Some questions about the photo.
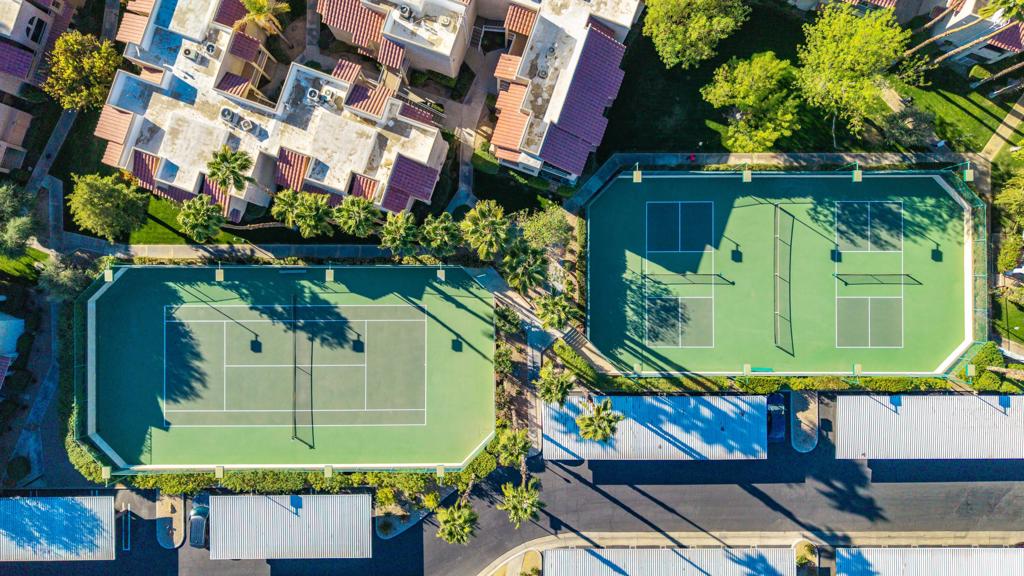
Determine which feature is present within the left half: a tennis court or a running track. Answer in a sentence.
Visible within the left half is a tennis court.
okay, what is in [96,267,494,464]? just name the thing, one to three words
tennis court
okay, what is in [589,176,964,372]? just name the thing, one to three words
sports court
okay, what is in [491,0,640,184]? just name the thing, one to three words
building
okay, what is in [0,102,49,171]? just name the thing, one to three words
building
